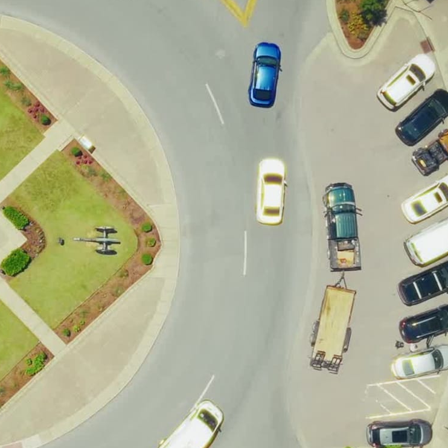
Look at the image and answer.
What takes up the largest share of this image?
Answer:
paved ground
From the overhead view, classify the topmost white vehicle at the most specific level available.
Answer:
automobile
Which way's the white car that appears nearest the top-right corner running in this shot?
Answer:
diagonally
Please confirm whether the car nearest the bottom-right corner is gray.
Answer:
Yes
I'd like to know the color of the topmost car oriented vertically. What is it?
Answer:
blue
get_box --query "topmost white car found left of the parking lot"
[255,159,289,223]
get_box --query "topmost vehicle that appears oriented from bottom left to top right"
[373,54,437,110]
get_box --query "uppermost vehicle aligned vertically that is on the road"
[248,42,282,107]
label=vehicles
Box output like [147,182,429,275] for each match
[324,183,365,272]
[406,130,448,178]
[255,159,289,223]
[396,261,448,305]
[397,305,448,347]
[400,220,448,266]
[373,54,437,110]
[248,42,282,107]
[365,418,431,448]
[163,394,228,448]
[390,342,448,379]
[391,88,448,145]
[399,175,448,225]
